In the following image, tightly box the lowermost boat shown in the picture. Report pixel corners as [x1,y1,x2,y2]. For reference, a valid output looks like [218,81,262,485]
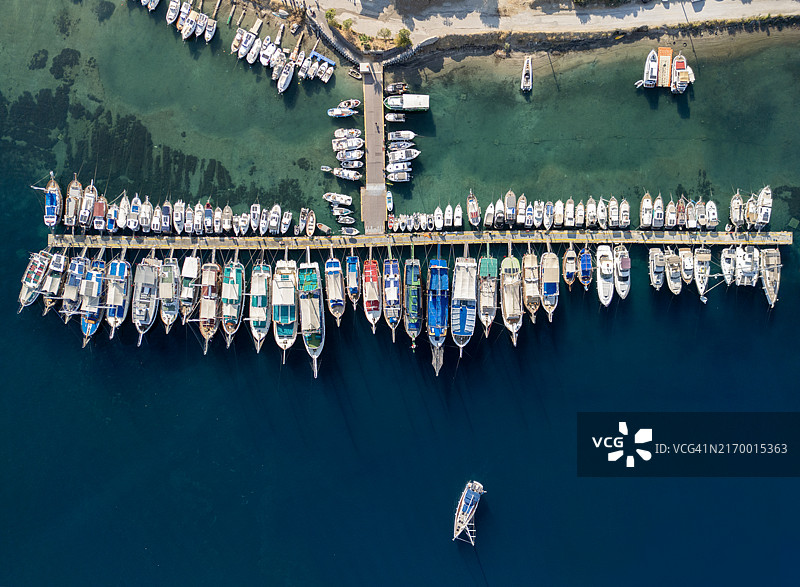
[452,481,487,540]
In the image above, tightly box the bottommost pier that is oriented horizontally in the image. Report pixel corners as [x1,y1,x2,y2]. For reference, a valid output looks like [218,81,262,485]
[48,231,792,247]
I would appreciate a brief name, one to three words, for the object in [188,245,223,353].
boat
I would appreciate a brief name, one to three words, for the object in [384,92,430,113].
ship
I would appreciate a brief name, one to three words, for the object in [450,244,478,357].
boat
